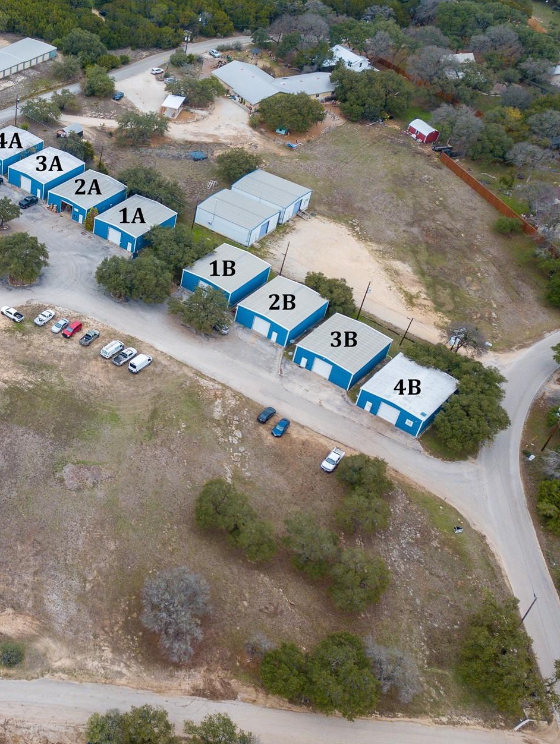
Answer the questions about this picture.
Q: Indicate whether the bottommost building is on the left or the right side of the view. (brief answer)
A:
right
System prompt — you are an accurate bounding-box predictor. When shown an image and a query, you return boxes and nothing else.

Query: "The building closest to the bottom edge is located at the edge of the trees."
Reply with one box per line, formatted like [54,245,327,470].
[354,353,458,437]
